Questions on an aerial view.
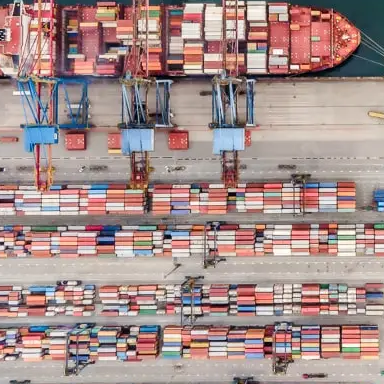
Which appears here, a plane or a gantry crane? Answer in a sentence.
There is a gantry crane in the scene.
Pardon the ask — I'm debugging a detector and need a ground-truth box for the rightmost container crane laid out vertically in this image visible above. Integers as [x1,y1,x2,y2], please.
[289,173,312,220]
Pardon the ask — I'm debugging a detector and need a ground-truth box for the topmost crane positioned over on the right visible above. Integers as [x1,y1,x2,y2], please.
[209,0,267,185]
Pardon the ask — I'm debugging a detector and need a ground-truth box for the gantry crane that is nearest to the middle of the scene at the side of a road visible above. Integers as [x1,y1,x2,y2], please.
[201,220,226,269]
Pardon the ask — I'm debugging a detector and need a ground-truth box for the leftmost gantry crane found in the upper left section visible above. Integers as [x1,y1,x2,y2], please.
[14,0,101,192]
